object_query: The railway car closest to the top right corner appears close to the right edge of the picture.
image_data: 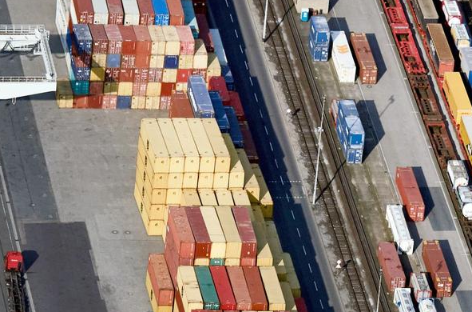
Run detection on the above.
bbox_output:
[433,0,451,36]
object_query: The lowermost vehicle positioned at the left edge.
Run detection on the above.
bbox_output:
[2,249,33,312]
